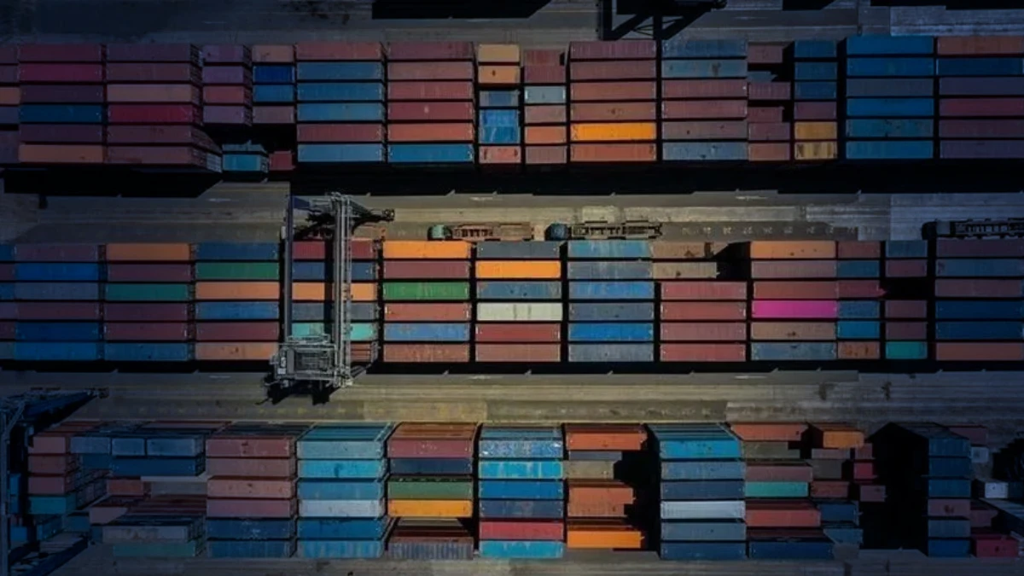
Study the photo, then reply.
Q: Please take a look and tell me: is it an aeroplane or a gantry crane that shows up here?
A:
gantry crane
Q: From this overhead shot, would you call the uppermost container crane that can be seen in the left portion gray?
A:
Yes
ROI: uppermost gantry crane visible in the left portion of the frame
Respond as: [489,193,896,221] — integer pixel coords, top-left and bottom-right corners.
[261,195,398,394]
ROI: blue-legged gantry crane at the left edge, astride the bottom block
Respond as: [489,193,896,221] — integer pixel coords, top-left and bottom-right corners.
[0,383,112,576]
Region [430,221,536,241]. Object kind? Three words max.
vehicle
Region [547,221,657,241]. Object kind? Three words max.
vehicle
